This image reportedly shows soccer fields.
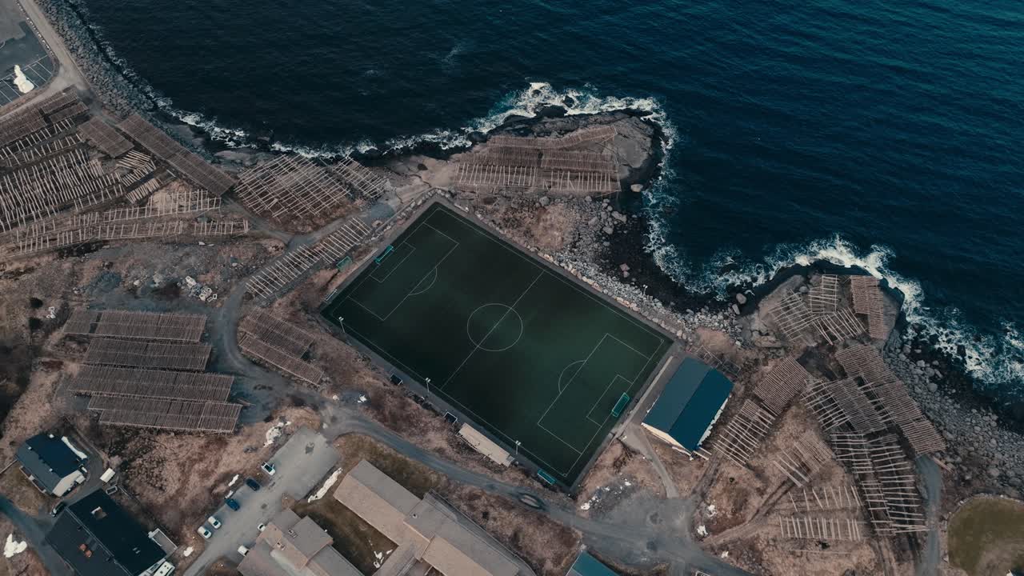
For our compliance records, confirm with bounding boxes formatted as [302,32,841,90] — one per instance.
[302,195,684,507]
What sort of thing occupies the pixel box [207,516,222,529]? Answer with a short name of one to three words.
vehicle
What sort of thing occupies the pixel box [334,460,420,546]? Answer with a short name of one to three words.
building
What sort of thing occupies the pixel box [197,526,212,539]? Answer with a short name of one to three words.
vehicle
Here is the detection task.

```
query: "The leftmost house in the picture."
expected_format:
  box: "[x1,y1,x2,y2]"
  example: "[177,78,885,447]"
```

[15,433,89,498]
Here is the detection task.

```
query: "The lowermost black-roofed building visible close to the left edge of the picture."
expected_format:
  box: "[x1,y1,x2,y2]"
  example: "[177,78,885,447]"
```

[44,488,181,576]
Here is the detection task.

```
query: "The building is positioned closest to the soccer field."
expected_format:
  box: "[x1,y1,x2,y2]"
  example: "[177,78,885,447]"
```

[642,356,734,456]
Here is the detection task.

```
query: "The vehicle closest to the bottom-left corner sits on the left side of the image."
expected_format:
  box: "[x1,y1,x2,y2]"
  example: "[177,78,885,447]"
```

[50,501,68,516]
